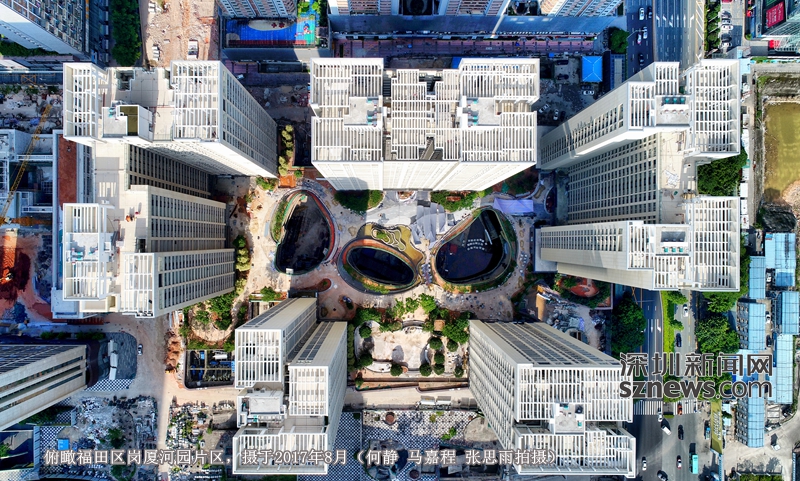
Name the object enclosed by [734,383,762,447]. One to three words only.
shed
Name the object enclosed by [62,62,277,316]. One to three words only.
building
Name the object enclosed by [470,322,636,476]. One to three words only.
building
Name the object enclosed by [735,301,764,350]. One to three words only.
shed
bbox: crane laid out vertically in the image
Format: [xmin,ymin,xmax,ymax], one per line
[0,100,65,226]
